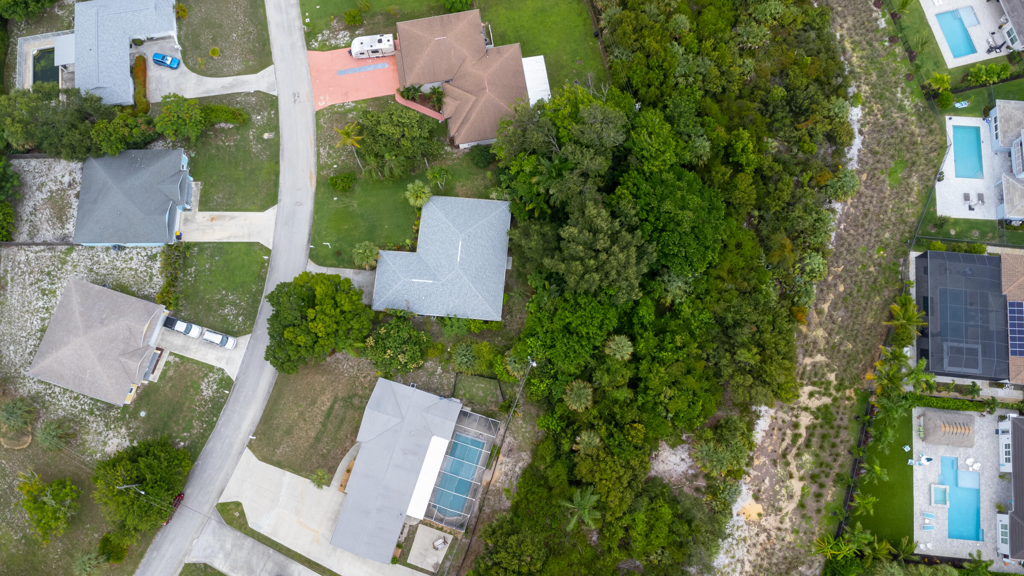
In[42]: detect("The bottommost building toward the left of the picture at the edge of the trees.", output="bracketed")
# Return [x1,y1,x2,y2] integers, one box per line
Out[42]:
[330,378,463,564]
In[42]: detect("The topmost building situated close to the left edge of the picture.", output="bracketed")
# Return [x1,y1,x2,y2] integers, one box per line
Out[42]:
[44,0,182,110]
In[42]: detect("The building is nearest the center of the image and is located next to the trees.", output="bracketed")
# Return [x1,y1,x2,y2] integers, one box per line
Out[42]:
[372,196,511,321]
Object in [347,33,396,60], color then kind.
white camper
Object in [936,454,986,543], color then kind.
blue swimming pool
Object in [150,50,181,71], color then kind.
blue car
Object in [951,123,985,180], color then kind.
blue swimming pool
